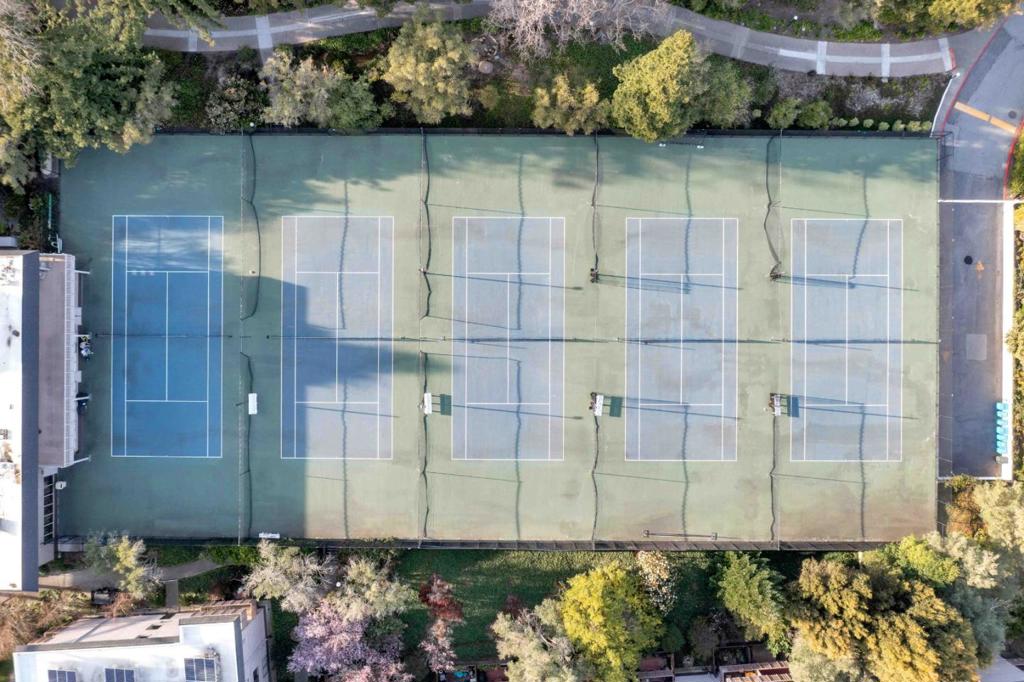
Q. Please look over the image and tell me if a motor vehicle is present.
No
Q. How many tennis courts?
five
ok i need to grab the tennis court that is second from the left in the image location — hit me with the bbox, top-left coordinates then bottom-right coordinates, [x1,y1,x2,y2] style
[251,135,427,541]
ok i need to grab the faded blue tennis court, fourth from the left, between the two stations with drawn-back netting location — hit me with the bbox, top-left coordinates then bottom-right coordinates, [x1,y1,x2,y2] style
[596,137,776,542]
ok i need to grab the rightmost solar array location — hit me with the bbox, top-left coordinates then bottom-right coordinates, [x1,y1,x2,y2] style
[185,658,221,682]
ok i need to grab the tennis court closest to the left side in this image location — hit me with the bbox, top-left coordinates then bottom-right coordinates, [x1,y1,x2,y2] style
[56,136,253,539]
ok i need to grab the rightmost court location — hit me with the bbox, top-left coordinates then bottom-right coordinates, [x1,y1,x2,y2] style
[774,138,939,543]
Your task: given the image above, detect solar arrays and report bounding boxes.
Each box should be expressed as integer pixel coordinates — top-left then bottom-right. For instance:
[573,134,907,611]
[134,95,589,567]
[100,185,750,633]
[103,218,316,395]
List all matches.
[185,658,221,682]
[48,669,83,682]
[105,667,141,682]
